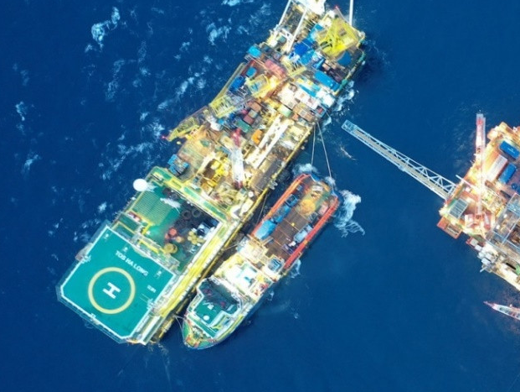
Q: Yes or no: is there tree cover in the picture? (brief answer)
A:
No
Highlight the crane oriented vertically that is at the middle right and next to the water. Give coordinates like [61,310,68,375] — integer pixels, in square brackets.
[471,114,493,229]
